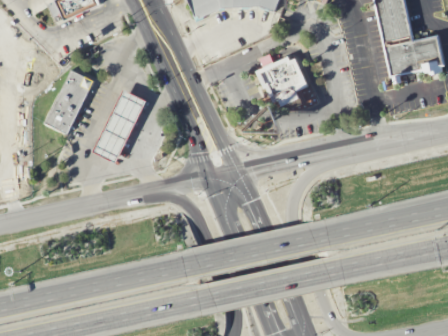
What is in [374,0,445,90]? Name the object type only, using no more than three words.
building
